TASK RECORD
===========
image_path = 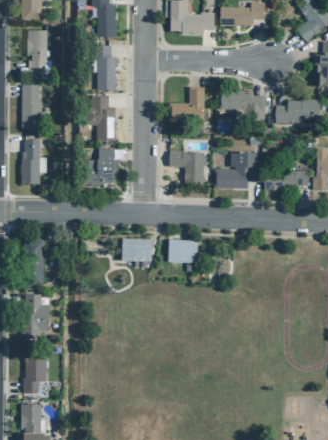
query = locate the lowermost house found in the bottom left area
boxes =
[21,404,50,440]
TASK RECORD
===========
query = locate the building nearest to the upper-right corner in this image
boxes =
[298,0,328,44]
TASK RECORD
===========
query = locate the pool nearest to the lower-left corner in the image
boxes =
[44,405,58,424]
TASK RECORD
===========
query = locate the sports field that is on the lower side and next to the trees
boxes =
[82,239,328,440]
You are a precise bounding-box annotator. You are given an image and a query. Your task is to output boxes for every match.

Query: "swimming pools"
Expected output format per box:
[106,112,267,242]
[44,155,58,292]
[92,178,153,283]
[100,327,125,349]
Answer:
[188,144,207,152]
[44,405,58,424]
